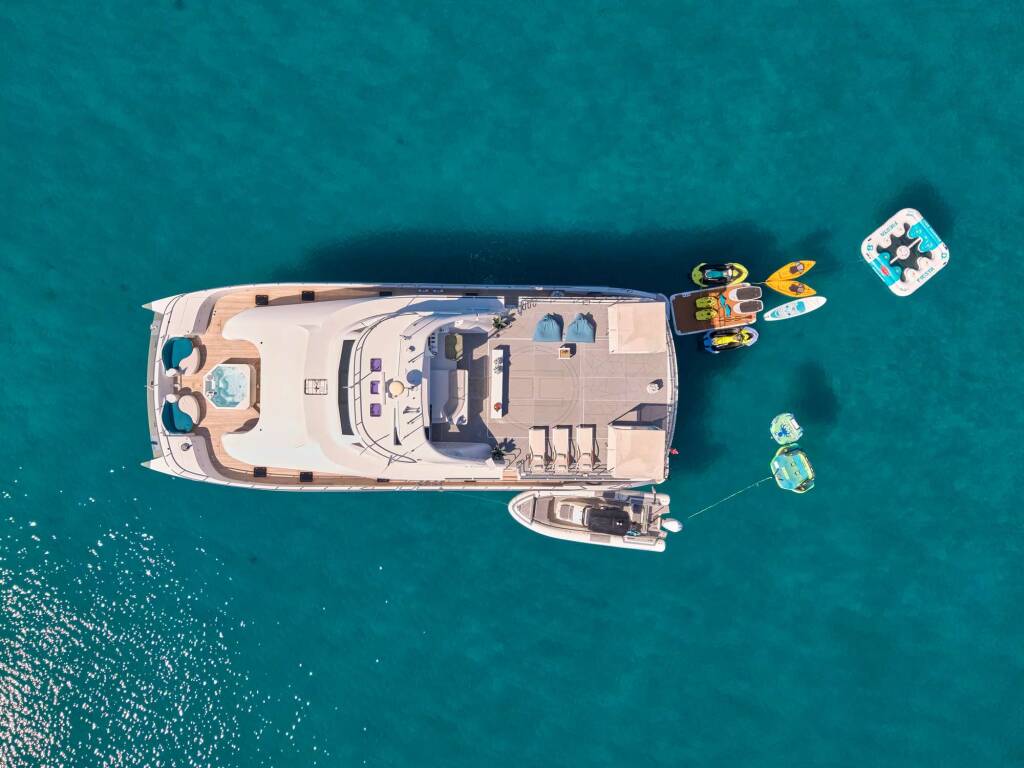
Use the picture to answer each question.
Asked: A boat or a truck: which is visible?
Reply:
boat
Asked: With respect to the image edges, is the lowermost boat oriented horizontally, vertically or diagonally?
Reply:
horizontally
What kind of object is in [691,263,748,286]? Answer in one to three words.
boat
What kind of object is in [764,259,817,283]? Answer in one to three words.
boat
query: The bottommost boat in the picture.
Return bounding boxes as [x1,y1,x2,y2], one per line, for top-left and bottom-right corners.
[508,487,682,552]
